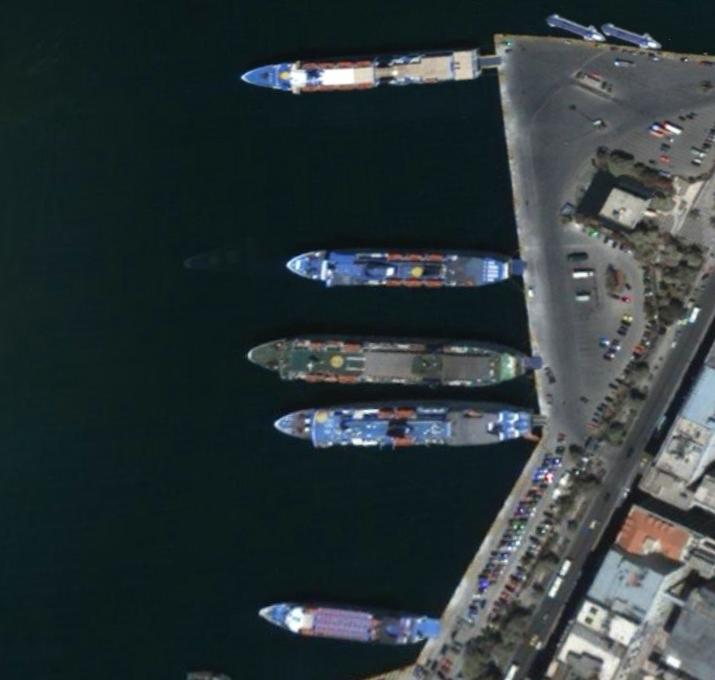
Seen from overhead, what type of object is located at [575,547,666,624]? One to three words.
building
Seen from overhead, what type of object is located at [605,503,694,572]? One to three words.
house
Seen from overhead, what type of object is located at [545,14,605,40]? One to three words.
boat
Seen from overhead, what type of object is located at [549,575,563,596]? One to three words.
vehicle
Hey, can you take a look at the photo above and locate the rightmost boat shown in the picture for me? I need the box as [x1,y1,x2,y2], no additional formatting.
[600,23,661,47]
